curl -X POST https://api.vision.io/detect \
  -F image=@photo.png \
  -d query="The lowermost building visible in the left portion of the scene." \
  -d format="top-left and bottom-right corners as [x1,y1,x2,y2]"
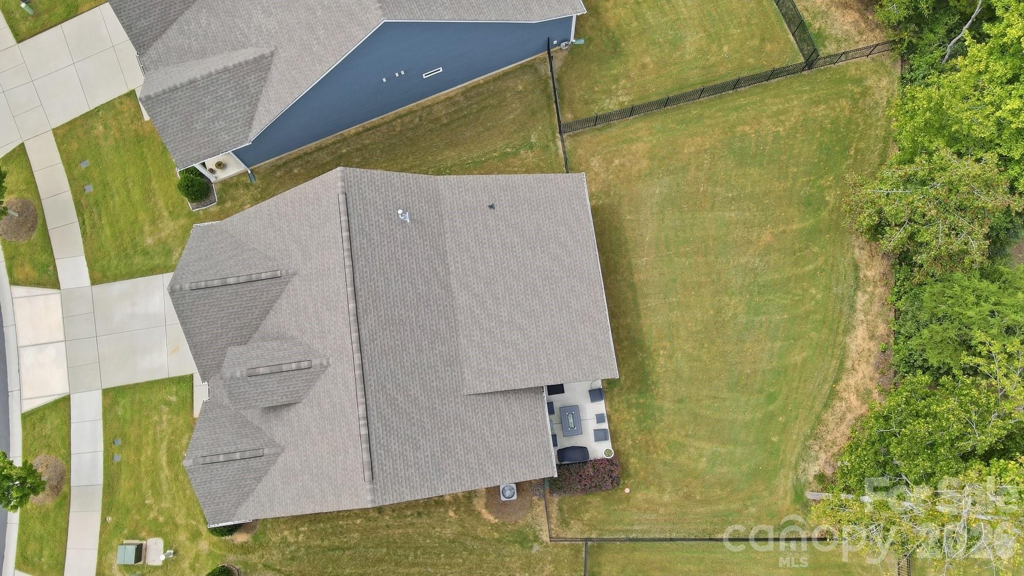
[166,164,621,530]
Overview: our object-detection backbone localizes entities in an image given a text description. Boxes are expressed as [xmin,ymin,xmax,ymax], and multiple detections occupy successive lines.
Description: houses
[166,164,621,530]
[107,0,588,186]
